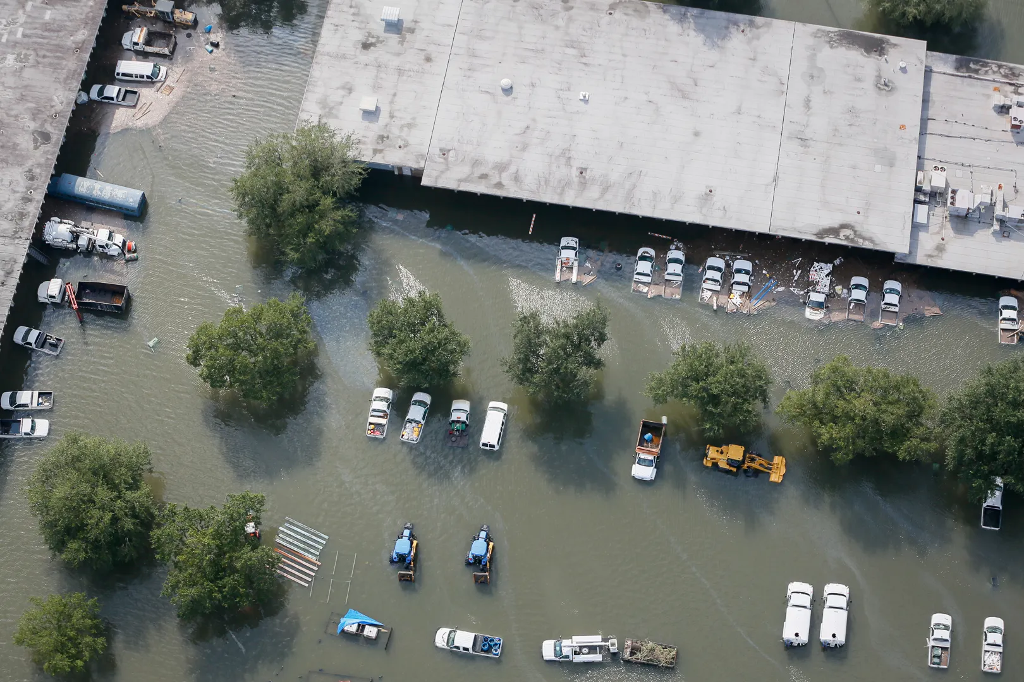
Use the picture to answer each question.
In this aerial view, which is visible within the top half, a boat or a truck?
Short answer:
truck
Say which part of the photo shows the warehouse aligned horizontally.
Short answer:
top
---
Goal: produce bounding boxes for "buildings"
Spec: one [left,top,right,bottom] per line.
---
[0,0,111,358]
[298,0,928,256]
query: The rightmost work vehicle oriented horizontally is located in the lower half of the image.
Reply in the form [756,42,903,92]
[701,444,785,488]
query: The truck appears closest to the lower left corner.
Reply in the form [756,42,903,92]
[0,416,52,439]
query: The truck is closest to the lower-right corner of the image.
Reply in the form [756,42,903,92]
[980,616,1009,677]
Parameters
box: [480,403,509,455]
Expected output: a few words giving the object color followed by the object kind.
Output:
white van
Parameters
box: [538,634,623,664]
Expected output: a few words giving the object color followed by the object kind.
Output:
white truck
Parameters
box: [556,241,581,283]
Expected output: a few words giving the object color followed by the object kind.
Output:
white truck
